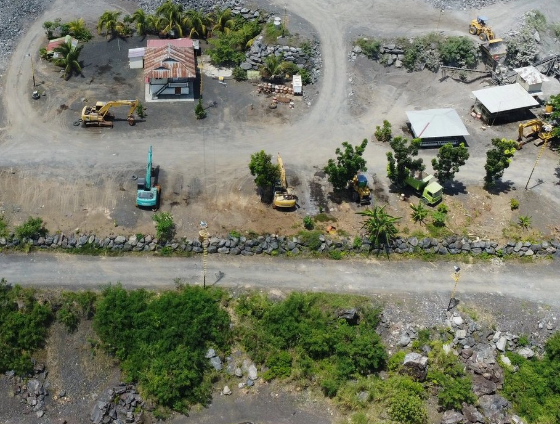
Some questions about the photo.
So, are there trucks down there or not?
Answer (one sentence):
Yes, the photo shows a truck.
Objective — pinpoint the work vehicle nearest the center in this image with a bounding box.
[271,171,301,213]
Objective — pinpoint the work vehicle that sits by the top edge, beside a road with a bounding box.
[461,16,507,44]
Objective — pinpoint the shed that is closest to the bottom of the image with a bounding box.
[404,107,470,151]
